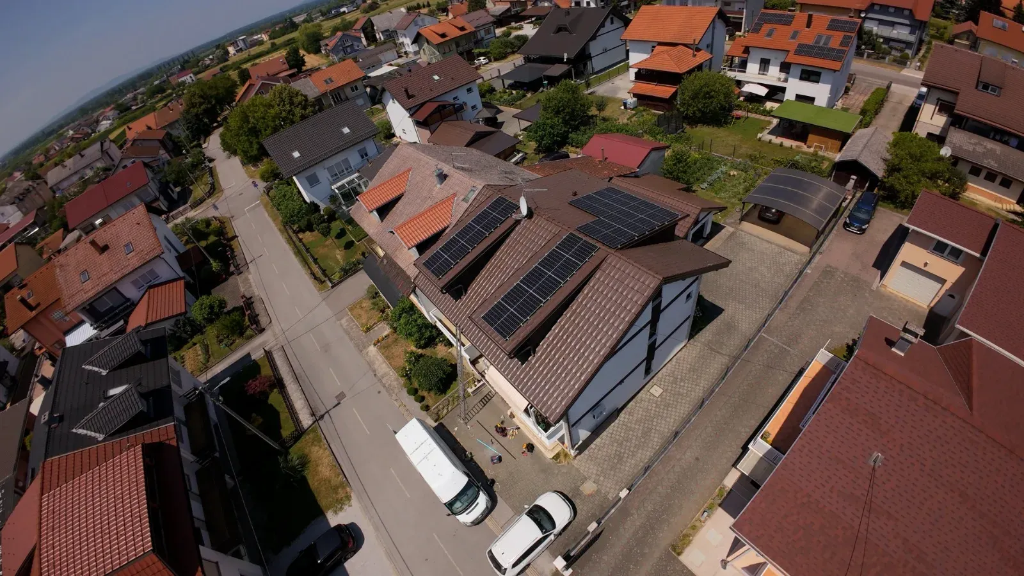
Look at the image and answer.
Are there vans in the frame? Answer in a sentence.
Yes, the frame does contain a van.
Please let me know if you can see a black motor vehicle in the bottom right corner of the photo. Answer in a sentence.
No, I can find no black motor vehicle in the bottom right corner of the photo.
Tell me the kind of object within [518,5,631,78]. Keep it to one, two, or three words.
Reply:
house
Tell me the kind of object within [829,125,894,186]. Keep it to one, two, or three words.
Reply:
building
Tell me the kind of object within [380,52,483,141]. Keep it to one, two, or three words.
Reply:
house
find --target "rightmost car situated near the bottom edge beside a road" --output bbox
[489,490,579,576]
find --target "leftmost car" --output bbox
[281,509,363,576]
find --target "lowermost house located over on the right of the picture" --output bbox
[729,316,1024,576]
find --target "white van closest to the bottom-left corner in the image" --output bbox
[393,415,492,529]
